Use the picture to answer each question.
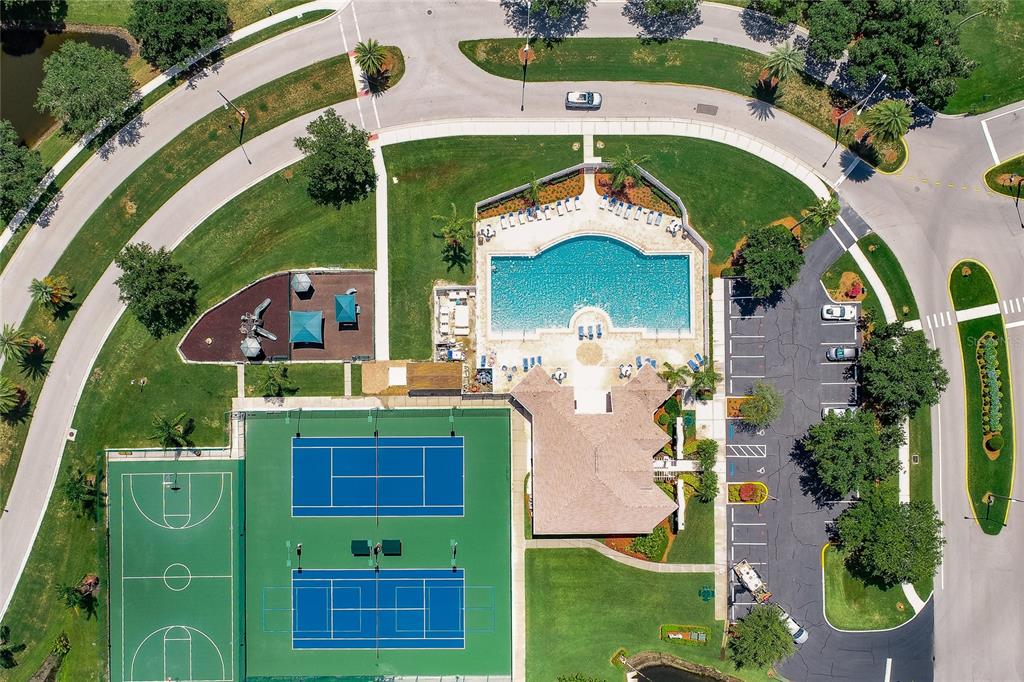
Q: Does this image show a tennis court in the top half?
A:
No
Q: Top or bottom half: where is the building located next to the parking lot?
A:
bottom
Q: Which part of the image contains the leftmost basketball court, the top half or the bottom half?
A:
bottom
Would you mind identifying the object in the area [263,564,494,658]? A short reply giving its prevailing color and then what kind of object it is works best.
blue tennis court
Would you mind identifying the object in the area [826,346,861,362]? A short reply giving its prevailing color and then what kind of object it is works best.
gray car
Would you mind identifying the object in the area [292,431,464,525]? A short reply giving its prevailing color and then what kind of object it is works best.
blue tennis court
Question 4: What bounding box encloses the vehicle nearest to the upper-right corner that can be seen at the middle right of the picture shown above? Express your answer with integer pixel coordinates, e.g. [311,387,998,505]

[822,304,857,321]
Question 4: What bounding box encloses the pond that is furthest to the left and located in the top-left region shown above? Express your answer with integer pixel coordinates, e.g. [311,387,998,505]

[0,35,131,171]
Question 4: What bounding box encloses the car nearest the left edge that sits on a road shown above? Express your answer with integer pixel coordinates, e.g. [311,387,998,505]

[566,92,602,110]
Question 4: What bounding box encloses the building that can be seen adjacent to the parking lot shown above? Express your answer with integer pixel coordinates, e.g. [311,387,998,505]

[508,363,678,536]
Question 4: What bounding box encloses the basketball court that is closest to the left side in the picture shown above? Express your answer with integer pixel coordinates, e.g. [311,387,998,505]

[108,459,244,682]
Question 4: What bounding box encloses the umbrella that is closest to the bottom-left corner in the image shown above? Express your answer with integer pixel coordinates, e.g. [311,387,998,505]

[241,338,261,356]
